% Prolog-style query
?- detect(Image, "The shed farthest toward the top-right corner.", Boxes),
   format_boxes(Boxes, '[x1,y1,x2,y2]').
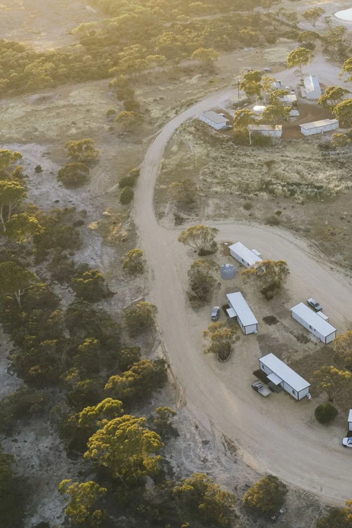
[303,75,321,97]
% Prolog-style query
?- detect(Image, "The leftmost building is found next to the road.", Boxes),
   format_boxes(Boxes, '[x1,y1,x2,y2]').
[200,111,229,130]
